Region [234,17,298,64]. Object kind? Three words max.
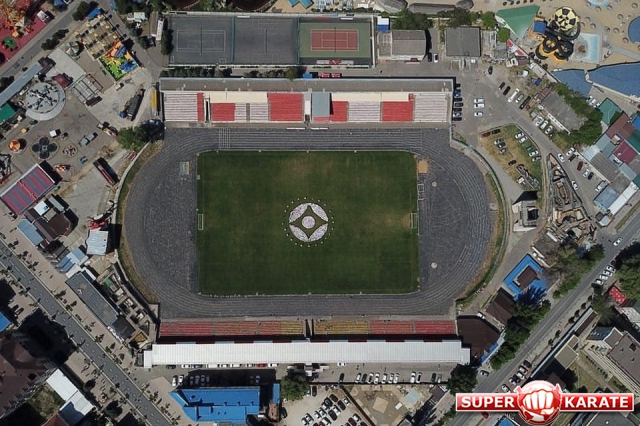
basketball court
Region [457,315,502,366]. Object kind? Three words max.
building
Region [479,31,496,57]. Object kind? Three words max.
house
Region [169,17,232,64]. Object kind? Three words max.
tennis court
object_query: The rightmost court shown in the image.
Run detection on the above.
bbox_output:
[299,17,371,65]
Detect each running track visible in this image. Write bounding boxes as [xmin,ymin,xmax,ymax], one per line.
[124,127,492,317]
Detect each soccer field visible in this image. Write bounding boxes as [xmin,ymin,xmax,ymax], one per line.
[197,151,419,294]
